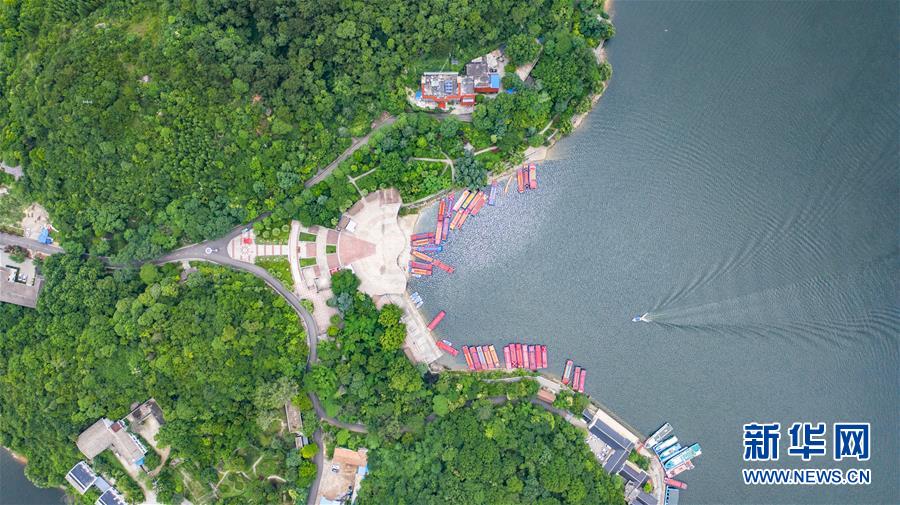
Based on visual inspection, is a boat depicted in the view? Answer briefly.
Yes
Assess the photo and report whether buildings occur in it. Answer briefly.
Yes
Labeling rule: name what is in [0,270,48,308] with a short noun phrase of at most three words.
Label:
building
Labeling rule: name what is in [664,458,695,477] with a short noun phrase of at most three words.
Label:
boat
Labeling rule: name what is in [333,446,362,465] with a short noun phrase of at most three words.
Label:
house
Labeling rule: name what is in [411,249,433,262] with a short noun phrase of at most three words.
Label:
boat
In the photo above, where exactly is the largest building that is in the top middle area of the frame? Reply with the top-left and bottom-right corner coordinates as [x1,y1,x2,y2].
[422,72,461,107]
